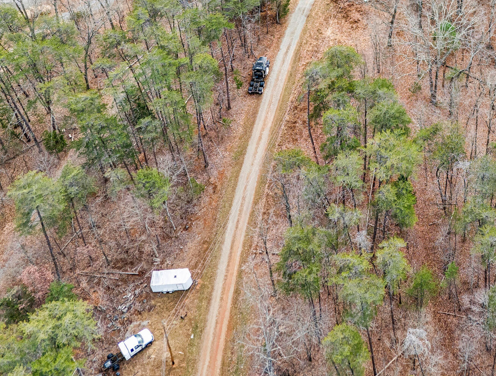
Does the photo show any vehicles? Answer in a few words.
Yes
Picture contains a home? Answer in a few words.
No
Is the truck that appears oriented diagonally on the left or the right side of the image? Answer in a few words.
left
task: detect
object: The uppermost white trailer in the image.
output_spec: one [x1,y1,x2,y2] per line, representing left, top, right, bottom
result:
[150,267,196,293]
